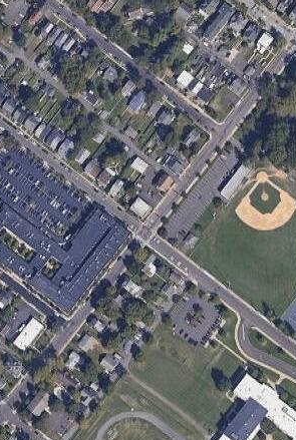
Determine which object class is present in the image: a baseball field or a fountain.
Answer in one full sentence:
It is a baseball field that can be seen here.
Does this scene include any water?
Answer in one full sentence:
No, water can't be seen anywhere here.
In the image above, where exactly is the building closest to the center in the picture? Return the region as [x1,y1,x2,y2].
[131,196,152,216]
